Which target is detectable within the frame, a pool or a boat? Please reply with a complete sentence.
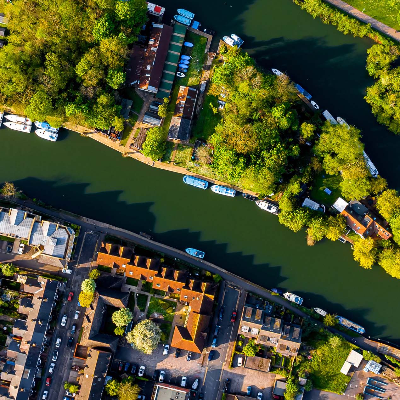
The one in the frame is a boat.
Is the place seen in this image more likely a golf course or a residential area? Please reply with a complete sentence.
What you see here is a residential area.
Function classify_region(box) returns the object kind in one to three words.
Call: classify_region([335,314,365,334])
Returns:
ship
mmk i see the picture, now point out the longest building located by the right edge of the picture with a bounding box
[329,196,392,241]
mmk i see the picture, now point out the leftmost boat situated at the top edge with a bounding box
[150,1,166,17]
